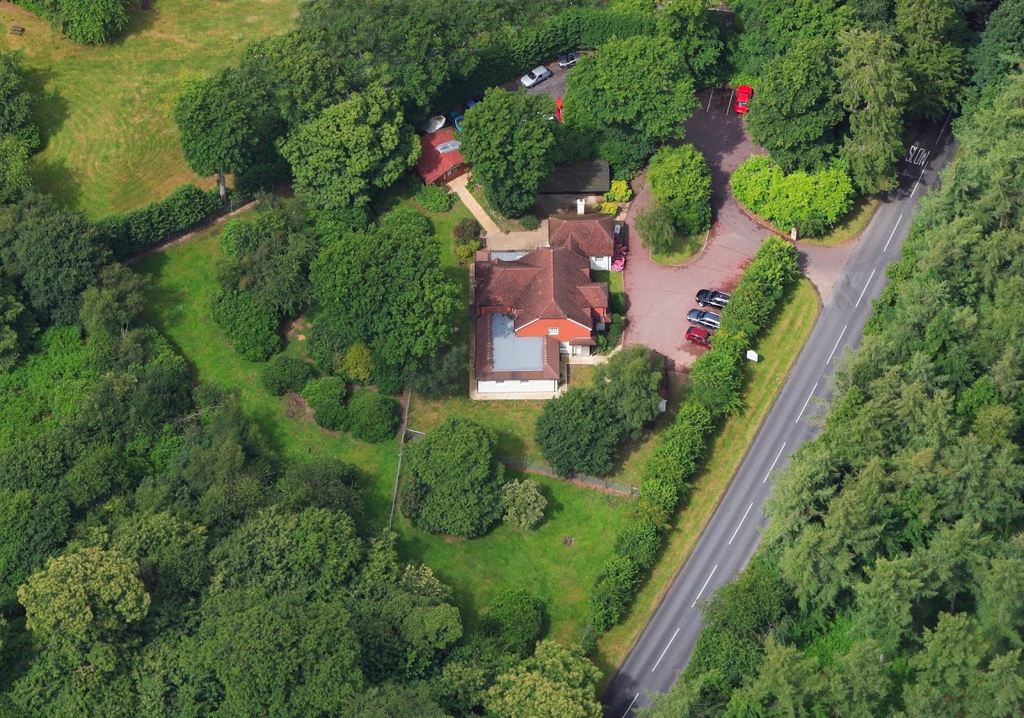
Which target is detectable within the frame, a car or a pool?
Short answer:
car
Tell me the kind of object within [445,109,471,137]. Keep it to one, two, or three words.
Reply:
car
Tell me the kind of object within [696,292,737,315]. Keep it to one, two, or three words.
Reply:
car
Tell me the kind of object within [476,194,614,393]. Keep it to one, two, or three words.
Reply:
house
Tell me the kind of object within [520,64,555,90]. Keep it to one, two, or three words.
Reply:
vehicle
